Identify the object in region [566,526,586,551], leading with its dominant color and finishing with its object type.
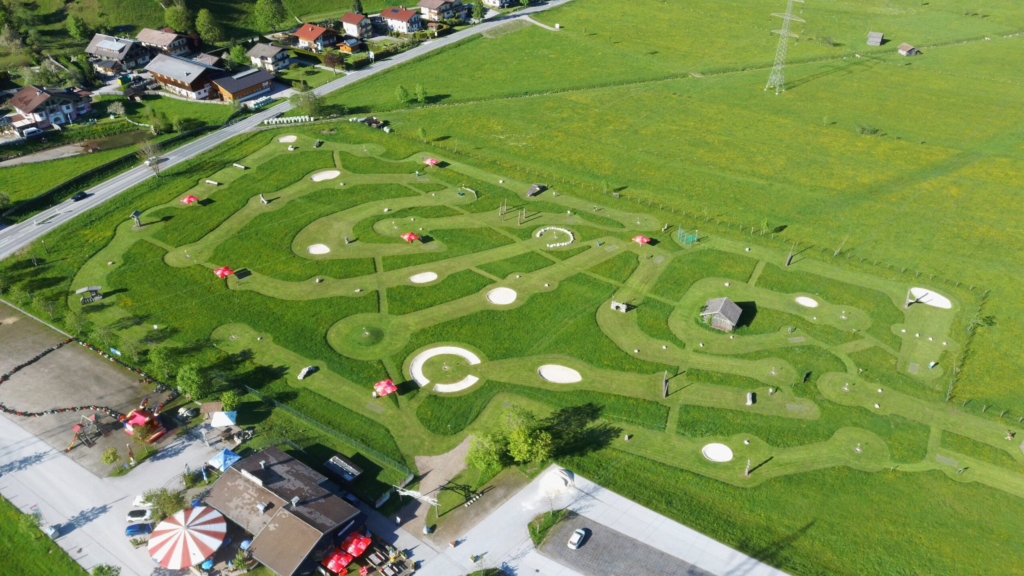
white car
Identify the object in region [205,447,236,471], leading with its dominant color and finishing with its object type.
white tent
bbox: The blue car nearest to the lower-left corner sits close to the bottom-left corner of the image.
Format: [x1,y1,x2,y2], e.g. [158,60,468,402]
[120,523,154,538]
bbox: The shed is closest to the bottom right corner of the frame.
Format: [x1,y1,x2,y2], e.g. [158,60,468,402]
[699,295,743,332]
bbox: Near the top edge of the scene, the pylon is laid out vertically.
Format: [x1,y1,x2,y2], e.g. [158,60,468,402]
[762,0,805,94]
